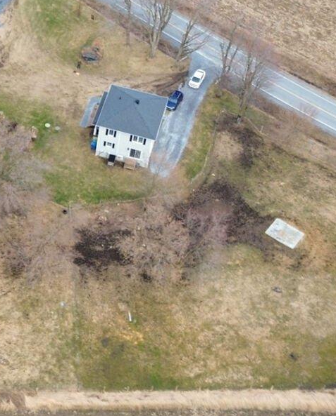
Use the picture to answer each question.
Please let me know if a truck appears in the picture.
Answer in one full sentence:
No, I find no truck anywhere in the image.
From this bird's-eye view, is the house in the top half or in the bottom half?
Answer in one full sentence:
The house sits in the top half of the picture.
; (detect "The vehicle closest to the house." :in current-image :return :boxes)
[167,89,183,113]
